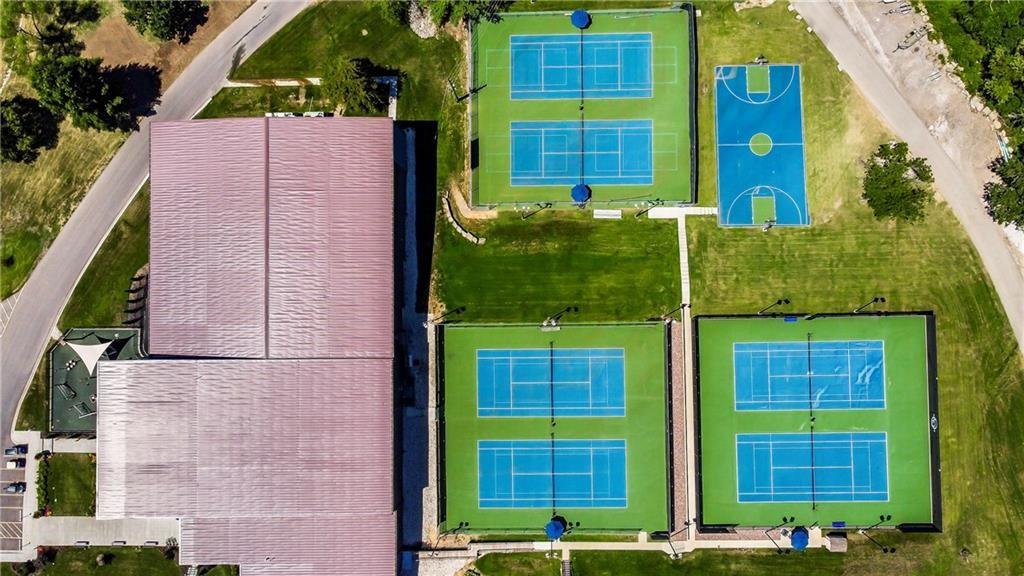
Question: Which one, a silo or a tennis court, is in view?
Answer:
tennis court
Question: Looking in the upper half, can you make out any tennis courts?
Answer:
Yes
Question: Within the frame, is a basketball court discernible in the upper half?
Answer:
Yes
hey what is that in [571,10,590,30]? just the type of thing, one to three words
umbrella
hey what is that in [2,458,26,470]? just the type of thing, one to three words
vehicle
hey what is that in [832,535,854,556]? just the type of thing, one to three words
shed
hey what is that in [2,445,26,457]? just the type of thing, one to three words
vehicle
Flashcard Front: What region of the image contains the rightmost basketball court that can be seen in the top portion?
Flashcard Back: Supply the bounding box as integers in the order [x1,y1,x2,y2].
[715,63,811,227]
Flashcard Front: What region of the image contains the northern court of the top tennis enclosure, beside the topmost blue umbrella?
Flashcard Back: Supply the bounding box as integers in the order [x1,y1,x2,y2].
[471,12,690,110]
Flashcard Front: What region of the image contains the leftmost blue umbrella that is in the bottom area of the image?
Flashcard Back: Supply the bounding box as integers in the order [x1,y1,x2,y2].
[545,518,564,538]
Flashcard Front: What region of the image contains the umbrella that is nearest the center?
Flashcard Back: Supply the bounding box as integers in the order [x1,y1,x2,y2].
[571,184,590,203]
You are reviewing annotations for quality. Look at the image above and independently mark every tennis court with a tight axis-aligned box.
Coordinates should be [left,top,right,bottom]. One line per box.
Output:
[472,108,691,206]
[440,324,667,429]
[696,317,929,422]
[696,420,932,527]
[442,428,669,532]
[471,12,690,110]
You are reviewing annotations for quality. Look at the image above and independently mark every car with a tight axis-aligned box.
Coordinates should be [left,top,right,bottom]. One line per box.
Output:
[0,483,25,496]
[2,458,26,470]
[2,445,26,457]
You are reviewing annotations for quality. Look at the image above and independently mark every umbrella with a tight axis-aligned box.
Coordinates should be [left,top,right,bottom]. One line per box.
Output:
[788,527,808,547]
[571,184,590,203]
[545,518,564,538]
[571,10,590,30]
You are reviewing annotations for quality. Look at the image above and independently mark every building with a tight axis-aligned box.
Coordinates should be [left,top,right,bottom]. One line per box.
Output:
[832,535,854,556]
[95,114,403,576]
